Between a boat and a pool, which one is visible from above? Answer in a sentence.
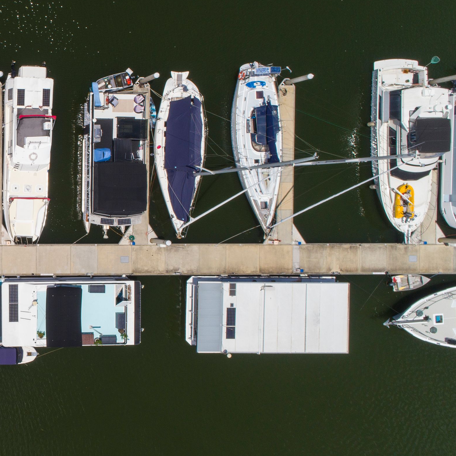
This aerial view contains a boat.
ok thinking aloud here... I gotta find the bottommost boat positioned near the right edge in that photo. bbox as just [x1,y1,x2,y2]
[383,287,456,347]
